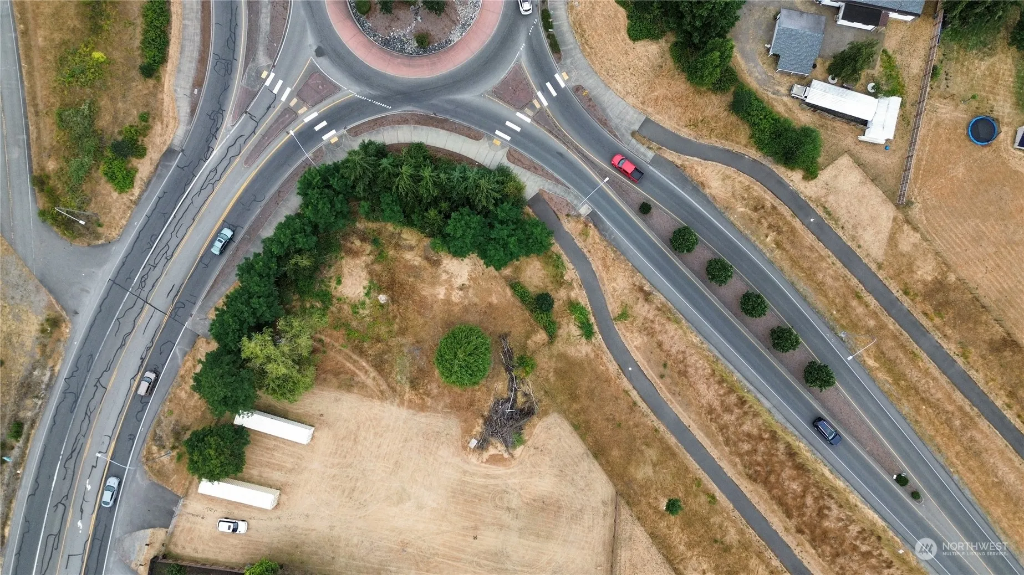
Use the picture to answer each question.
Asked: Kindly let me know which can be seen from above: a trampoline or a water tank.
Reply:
trampoline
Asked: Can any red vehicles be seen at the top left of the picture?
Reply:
No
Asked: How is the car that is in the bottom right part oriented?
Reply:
at an angle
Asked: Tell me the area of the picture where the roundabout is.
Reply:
top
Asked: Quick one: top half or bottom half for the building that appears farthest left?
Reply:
top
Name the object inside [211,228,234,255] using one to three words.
car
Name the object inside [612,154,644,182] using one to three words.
truck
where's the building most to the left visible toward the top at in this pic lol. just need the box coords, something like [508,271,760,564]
[768,8,825,82]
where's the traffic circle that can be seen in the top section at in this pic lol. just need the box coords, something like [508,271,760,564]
[291,0,538,111]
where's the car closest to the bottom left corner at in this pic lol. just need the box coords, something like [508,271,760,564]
[102,475,122,508]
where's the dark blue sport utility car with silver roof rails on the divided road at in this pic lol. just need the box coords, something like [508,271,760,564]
[812,415,841,446]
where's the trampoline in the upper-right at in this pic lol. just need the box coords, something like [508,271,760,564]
[967,113,1004,147]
